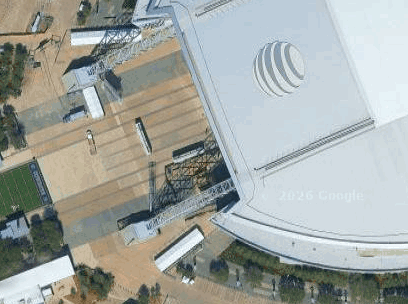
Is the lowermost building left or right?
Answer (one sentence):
It is on the left.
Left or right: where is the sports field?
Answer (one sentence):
The sports field is on the left side of the image.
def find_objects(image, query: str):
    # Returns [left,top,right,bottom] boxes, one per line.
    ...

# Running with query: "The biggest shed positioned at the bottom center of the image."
[153,230,206,275]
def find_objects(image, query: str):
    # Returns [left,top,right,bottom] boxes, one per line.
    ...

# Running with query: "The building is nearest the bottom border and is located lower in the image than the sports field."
[0,256,76,304]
